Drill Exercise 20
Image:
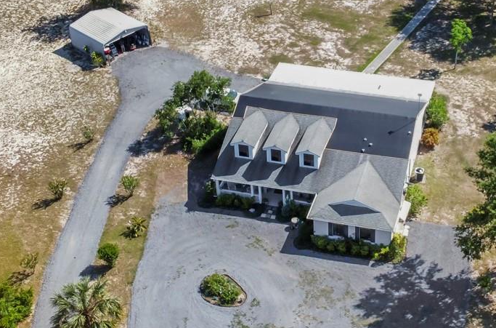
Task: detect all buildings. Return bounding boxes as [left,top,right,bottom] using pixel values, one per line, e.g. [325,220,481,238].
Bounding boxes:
[209,64,436,247]
[66,5,153,65]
